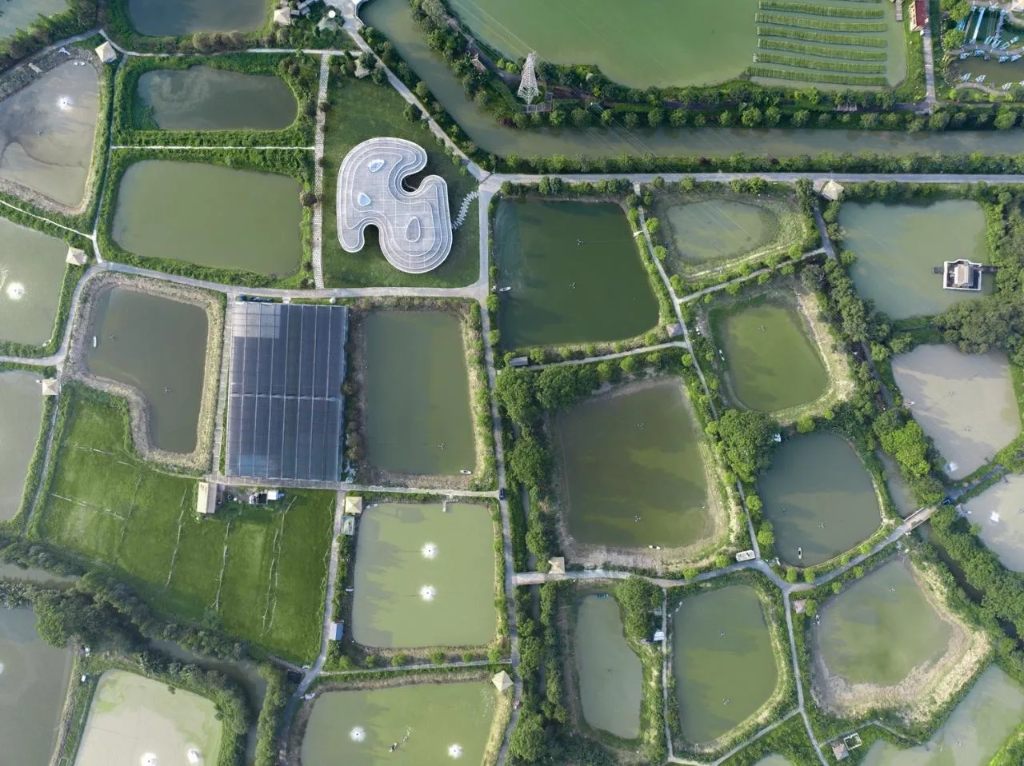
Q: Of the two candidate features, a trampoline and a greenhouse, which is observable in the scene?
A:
greenhouse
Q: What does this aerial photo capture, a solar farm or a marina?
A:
marina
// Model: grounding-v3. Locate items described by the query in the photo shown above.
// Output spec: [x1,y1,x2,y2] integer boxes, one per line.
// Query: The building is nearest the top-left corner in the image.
[94,41,122,67]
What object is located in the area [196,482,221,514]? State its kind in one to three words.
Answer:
house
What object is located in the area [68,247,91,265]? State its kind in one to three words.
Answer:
building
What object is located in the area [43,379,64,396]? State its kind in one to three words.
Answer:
building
